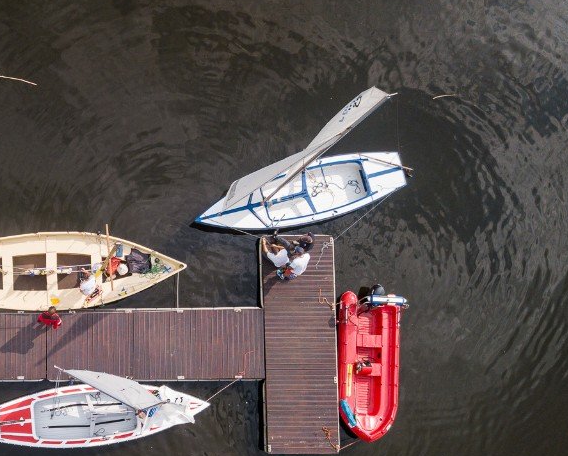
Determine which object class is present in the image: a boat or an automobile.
boat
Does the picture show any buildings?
No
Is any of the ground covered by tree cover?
No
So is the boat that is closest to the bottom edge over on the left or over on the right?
left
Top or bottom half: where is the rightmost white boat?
top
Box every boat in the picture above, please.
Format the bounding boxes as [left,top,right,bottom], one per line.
[334,278,409,442]
[0,231,188,310]
[0,367,211,448]
[193,86,413,233]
